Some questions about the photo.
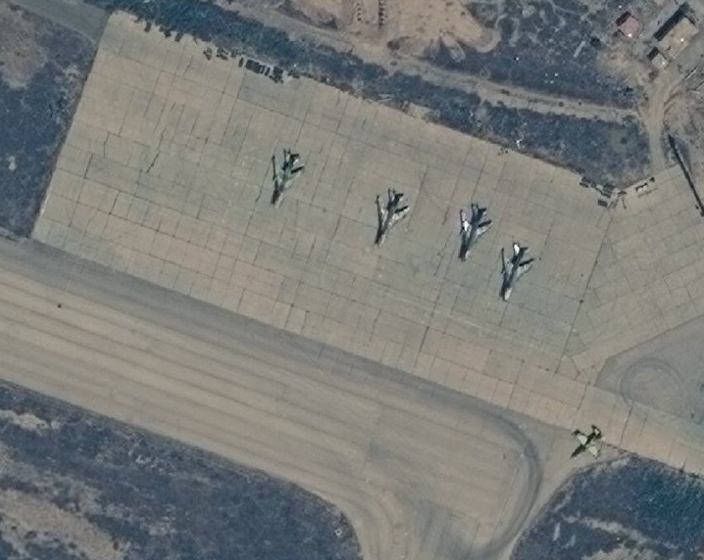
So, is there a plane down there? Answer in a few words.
Yes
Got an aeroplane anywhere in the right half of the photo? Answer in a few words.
Yes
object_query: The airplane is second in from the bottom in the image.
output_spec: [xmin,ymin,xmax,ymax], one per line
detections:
[500,242,532,302]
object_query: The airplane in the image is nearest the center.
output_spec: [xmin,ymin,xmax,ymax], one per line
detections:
[375,188,407,248]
